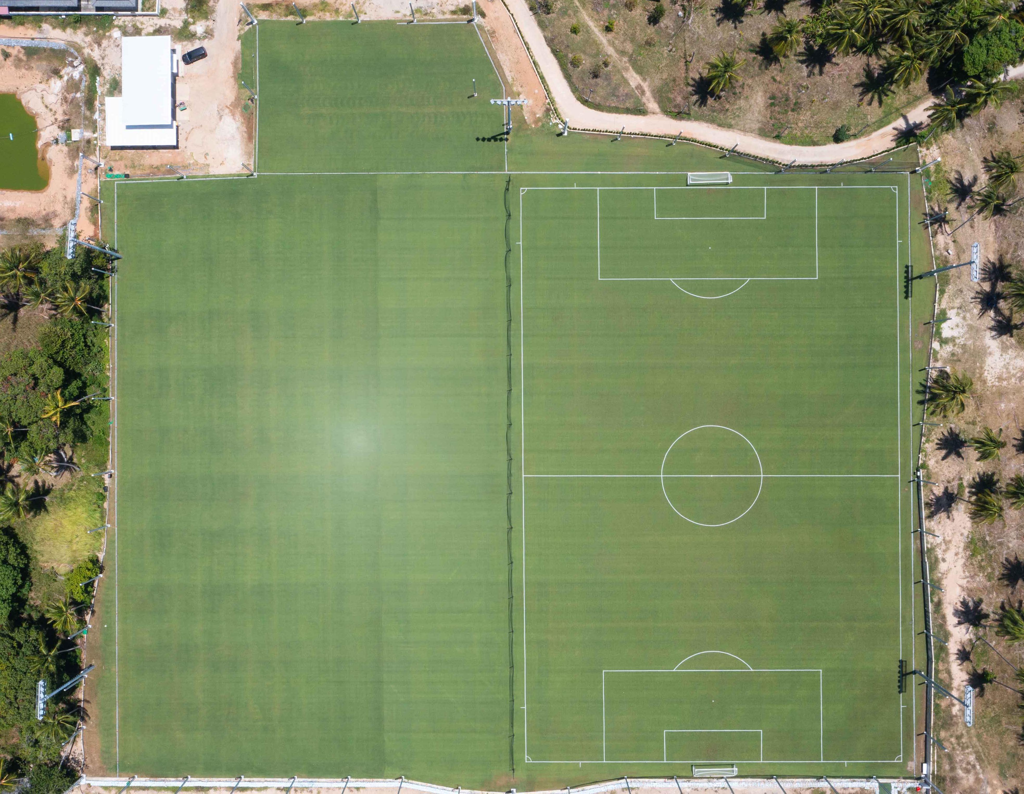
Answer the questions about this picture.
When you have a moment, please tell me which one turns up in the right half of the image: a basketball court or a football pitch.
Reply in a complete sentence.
It is a football pitch that can be seen in the right half of the image.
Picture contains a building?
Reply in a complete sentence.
Yes, a building is visible in the scene.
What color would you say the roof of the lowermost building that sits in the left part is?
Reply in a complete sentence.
The roof over the lowermost building that sits in the left part appears white.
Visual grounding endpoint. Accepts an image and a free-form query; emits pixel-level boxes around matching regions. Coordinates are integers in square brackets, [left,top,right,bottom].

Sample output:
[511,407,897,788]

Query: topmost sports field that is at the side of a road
[258,20,506,172]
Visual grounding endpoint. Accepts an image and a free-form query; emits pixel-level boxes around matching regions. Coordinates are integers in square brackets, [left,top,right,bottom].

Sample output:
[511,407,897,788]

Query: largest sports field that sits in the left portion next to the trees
[116,173,514,792]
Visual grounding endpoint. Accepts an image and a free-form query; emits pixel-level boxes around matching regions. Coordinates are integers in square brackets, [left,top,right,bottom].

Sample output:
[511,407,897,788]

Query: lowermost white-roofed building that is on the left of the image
[105,35,183,146]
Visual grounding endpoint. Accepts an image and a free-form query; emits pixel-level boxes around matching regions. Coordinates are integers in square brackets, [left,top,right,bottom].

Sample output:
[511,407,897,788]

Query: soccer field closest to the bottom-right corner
[510,173,914,792]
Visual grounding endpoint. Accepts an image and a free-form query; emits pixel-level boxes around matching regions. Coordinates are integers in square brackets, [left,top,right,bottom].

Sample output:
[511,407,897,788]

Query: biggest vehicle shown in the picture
[181,46,208,65]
